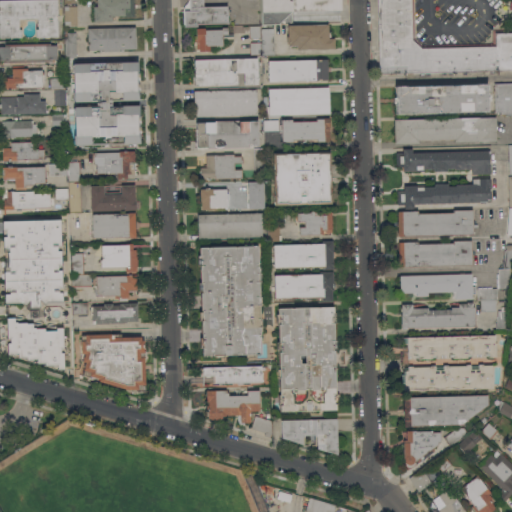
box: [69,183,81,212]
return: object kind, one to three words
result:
building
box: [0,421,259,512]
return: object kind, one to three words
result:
sports field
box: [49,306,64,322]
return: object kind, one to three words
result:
swimming pool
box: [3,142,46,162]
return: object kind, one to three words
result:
house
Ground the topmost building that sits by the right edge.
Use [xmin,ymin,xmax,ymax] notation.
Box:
[380,0,512,73]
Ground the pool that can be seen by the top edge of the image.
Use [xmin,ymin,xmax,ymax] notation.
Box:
[20,20,38,38]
